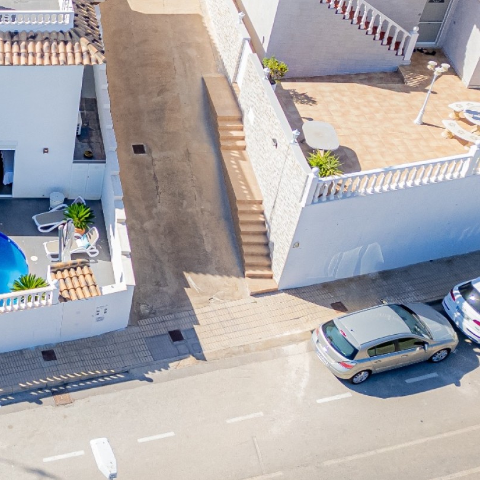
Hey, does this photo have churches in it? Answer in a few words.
No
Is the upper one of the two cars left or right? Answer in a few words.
right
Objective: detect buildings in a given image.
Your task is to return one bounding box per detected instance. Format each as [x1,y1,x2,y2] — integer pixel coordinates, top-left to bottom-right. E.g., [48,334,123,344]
[234,0,480,74]
[0,0,109,199]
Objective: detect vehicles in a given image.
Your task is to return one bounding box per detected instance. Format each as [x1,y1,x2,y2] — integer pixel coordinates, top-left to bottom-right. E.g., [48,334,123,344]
[438,270,480,338]
[303,292,464,384]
